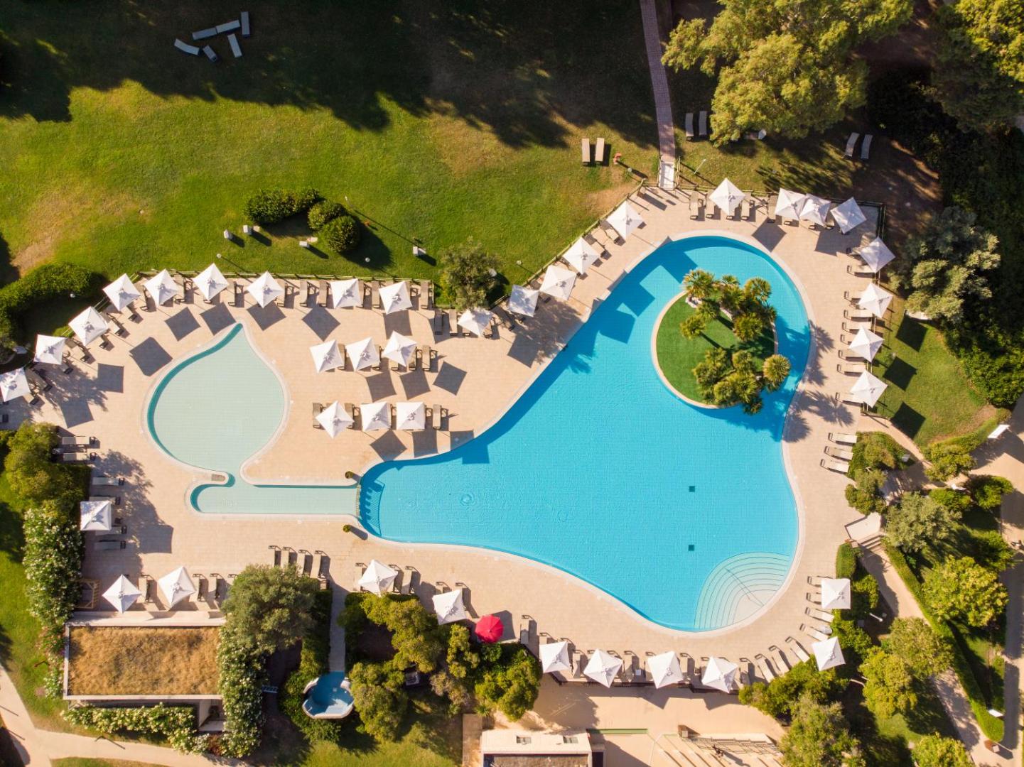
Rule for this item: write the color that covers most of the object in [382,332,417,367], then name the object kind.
white umbrella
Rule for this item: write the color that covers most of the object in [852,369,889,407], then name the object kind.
white umbrella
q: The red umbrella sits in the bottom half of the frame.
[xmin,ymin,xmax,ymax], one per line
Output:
[475,615,504,644]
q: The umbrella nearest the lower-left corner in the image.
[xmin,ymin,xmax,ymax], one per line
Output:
[101,575,142,614]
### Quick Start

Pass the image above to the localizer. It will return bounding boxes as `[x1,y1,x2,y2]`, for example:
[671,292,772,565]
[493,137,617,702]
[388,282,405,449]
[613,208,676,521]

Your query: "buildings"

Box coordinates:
[486,730,590,767]
[64,612,232,698]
